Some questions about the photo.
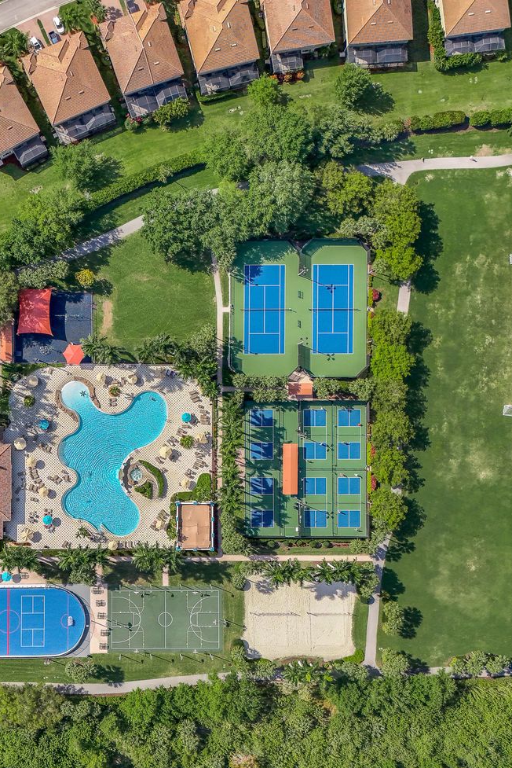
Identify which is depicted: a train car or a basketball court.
basketball court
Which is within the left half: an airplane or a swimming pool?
swimming pool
